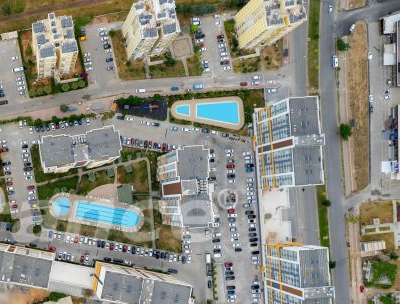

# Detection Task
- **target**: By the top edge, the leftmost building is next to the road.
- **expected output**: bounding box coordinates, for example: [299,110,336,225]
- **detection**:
[32,13,77,80]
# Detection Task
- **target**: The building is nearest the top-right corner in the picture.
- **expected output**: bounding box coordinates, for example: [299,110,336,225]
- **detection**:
[377,13,400,38]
